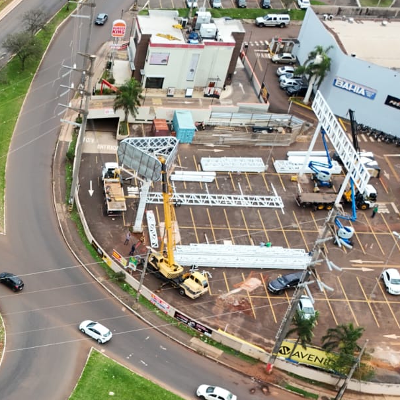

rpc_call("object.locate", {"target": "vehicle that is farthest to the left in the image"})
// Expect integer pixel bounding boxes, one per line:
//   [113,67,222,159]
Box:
[0,271,26,291]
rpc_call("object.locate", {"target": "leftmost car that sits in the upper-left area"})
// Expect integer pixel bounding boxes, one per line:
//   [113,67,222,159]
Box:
[95,11,109,25]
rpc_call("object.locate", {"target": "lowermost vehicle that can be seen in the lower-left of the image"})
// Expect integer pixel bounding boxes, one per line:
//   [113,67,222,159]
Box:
[79,319,114,344]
